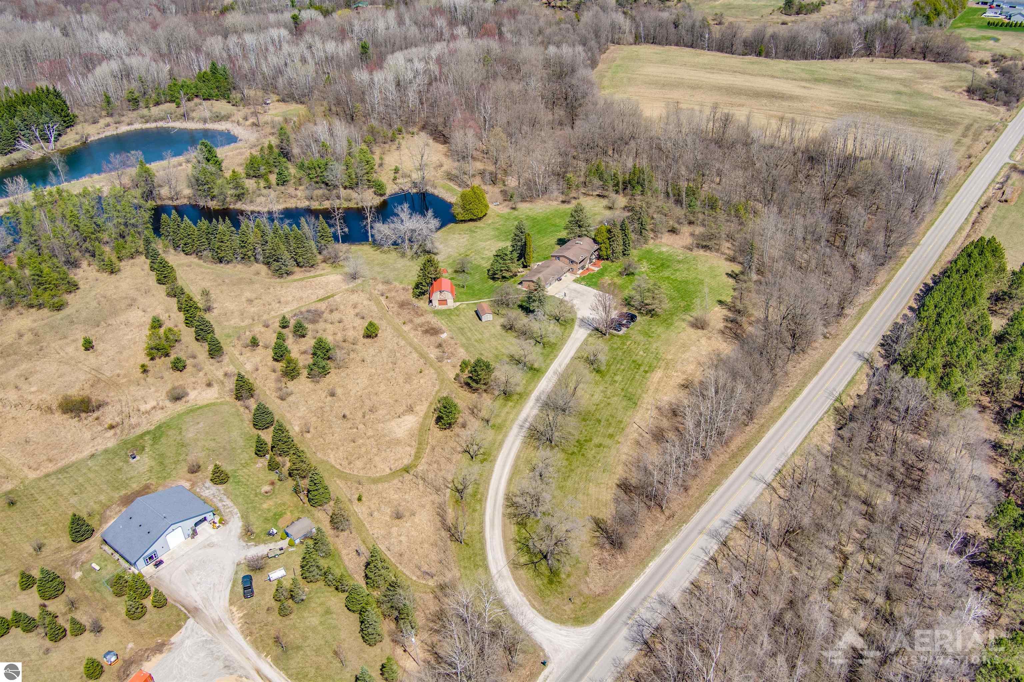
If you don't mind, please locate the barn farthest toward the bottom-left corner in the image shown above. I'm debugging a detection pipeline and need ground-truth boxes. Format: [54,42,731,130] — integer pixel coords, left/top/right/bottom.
[101,485,215,571]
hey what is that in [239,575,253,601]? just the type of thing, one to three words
vehicle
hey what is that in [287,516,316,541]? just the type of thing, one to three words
shed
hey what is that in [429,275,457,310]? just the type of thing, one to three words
barn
